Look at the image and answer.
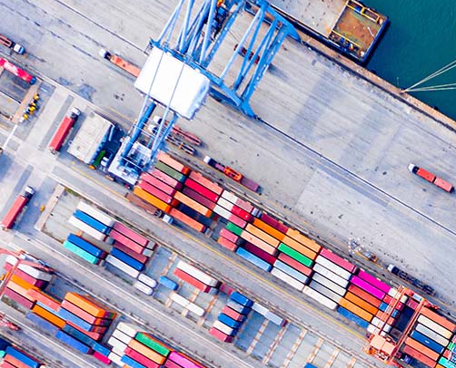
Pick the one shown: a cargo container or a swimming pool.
cargo container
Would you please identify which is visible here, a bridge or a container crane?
container crane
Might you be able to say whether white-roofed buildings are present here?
Yes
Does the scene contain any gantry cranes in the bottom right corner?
Yes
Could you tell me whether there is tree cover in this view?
No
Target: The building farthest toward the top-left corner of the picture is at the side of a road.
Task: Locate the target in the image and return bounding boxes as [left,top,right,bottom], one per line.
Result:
[67,112,124,168]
